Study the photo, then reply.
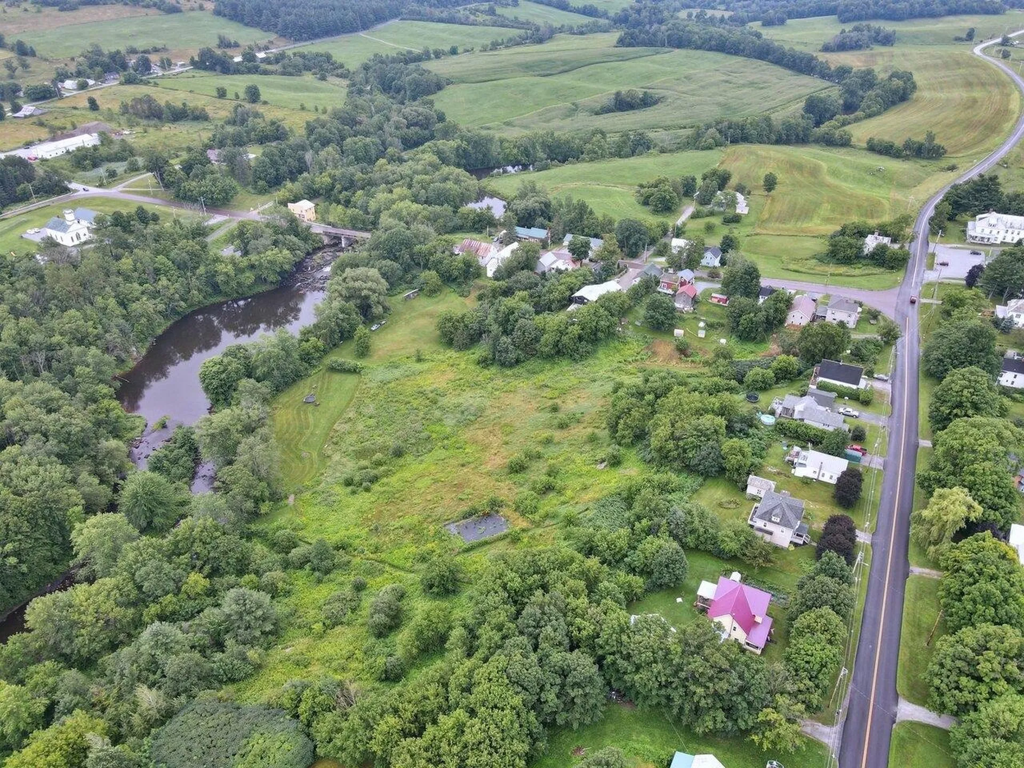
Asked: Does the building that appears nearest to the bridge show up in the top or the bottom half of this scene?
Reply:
top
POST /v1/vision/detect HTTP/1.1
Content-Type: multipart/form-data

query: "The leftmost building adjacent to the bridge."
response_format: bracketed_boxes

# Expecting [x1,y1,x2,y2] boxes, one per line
[292,198,320,221]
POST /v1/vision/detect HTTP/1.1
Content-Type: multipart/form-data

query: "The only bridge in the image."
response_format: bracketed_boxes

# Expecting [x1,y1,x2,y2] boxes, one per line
[309,221,395,244]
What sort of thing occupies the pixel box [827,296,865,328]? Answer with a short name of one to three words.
house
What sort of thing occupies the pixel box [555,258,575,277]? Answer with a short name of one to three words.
house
